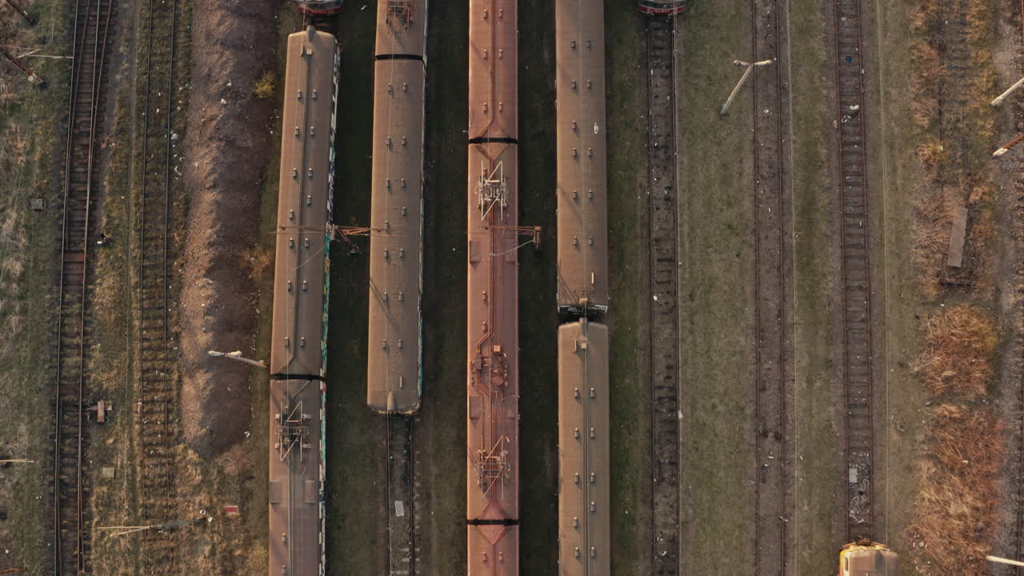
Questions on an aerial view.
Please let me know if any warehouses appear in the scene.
No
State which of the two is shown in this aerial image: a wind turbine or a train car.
train car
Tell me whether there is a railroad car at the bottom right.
Yes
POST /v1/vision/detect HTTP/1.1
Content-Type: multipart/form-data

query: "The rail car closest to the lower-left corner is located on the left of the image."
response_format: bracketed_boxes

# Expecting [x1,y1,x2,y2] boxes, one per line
[271,380,327,576]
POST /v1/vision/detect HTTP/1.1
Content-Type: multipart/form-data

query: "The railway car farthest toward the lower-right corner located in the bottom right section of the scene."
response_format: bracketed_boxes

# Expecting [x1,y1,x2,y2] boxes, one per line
[843,530,904,576]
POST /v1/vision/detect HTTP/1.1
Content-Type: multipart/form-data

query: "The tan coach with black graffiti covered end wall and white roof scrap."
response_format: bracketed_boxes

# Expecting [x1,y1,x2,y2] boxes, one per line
[554,0,607,311]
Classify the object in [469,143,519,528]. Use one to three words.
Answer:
rail car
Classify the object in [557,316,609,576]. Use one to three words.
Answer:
rail car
